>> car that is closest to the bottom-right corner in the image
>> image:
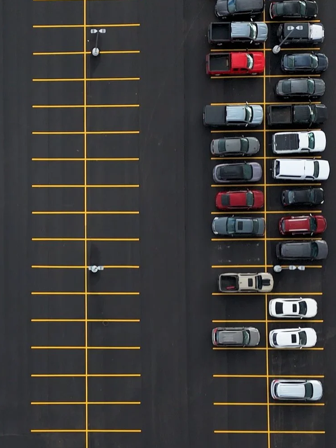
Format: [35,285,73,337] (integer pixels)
[270,380,322,402]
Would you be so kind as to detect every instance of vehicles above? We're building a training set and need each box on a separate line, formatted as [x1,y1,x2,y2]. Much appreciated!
[275,76,324,99]
[212,161,262,183]
[214,189,264,210]
[206,20,268,45]
[268,0,317,21]
[270,380,322,402]
[268,297,316,319]
[205,50,266,75]
[280,186,323,208]
[267,101,327,127]
[210,135,259,156]
[217,271,273,295]
[271,129,327,153]
[280,51,327,73]
[271,156,331,181]
[275,239,327,262]
[202,102,264,127]
[214,0,265,20]
[211,216,266,237]
[277,214,326,236]
[211,327,259,349]
[268,327,316,349]
[276,21,325,44]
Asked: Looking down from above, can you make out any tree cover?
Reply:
No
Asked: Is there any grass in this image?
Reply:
No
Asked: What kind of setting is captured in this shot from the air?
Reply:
parking lot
